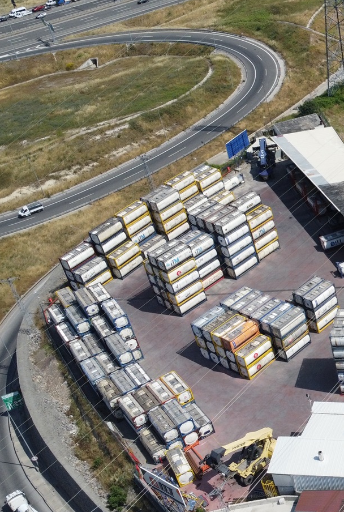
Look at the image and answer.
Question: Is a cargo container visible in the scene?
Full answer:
Yes, the frame does contain a cargo container.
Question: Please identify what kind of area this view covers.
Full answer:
This image shows an industrial area.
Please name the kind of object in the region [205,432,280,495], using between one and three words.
work vehicle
